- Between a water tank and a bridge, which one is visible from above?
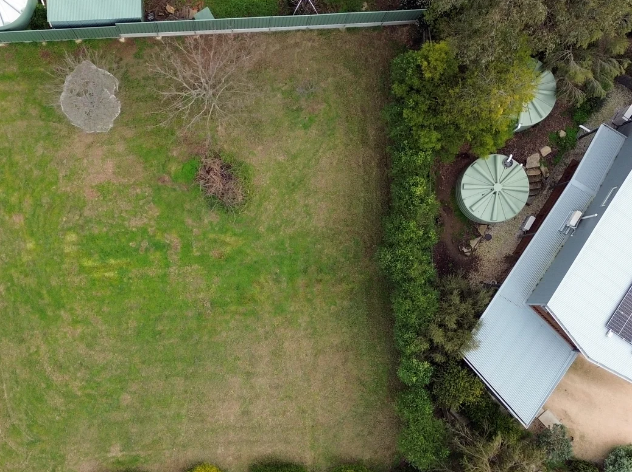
water tank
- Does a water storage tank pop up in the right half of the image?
Yes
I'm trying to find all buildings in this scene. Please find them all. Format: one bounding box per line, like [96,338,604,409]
[46,0,143,29]
[452,112,632,428]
